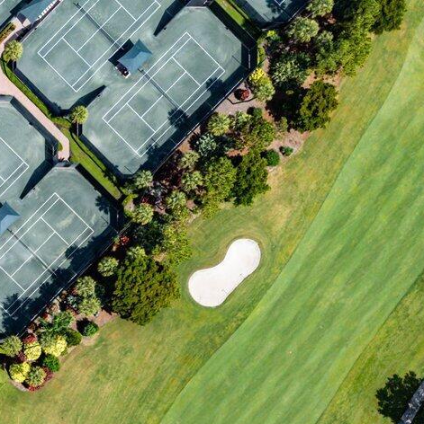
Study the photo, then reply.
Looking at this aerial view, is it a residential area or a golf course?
golf course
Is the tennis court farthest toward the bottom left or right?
left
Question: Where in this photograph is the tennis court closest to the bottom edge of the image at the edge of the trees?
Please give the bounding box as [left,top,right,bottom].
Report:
[0,165,118,335]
